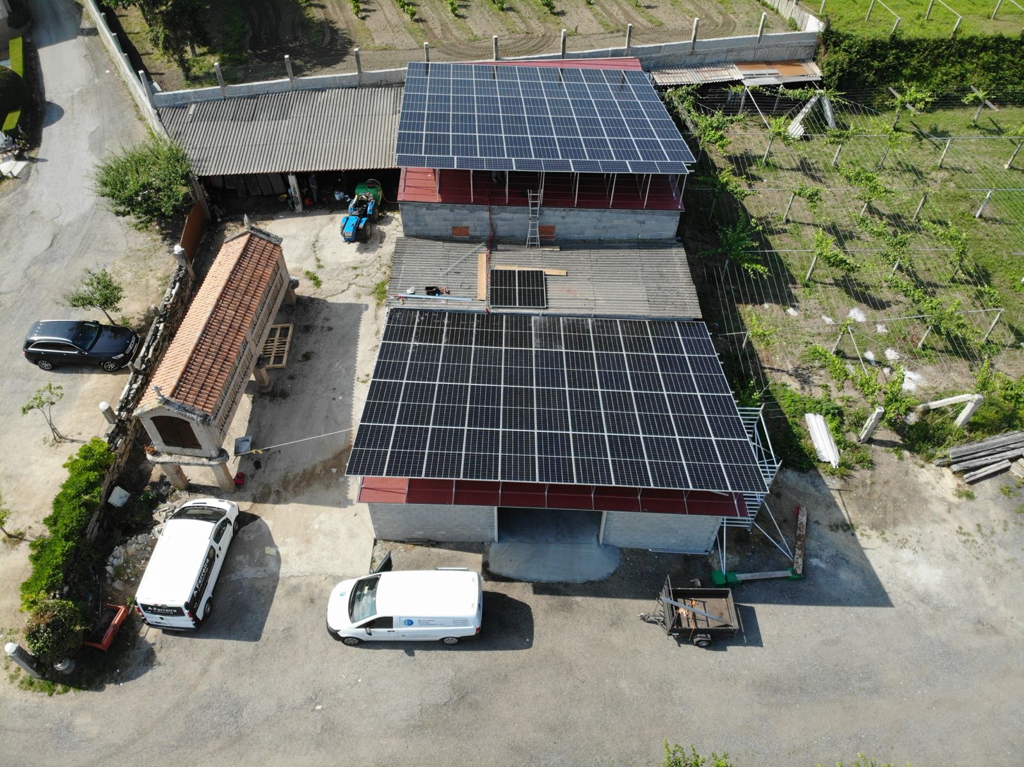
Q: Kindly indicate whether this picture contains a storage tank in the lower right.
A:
No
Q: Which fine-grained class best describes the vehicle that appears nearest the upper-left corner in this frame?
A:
car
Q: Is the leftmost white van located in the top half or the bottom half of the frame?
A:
bottom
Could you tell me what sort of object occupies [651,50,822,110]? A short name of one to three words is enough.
shed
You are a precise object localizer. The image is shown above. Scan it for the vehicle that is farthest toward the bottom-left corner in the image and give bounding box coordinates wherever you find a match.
[130,502,240,634]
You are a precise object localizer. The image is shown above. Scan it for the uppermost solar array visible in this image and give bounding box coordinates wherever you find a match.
[390,61,700,207]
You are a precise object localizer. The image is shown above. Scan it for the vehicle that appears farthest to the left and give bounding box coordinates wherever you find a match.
[21,321,136,372]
